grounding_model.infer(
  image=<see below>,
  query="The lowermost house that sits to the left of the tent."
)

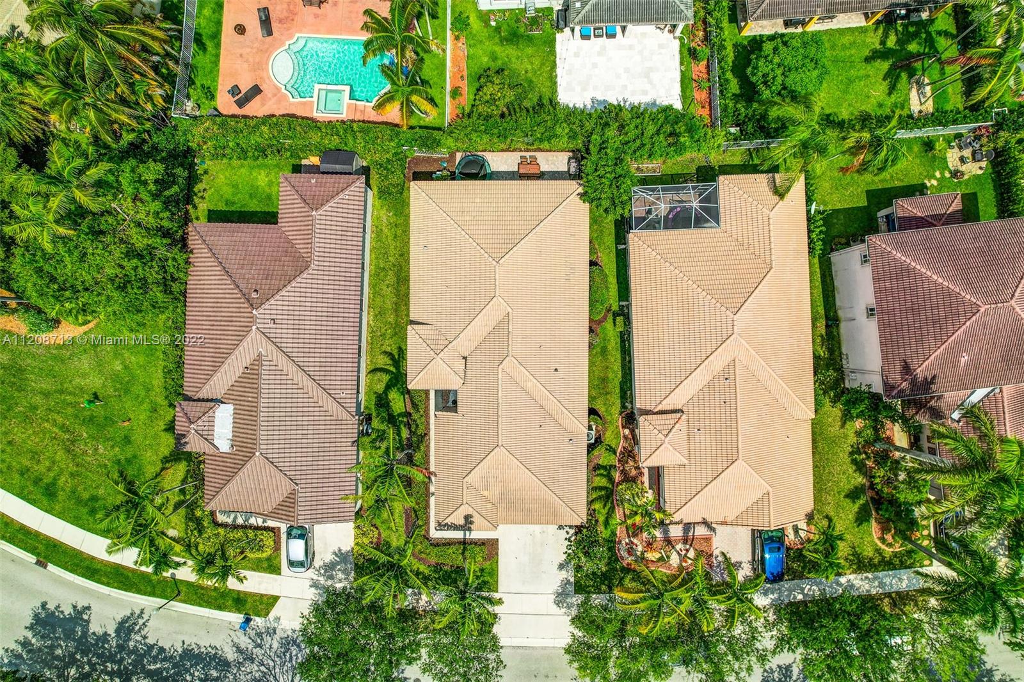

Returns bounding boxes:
[173,172,366,527]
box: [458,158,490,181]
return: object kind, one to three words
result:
tent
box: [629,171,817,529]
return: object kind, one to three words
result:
house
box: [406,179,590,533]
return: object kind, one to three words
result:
house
